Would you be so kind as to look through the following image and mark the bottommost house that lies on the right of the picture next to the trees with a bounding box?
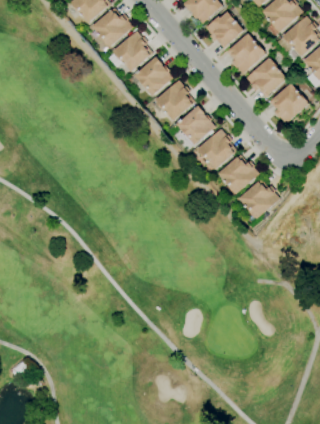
[240,180,280,218]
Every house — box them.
[205,8,246,46]
[269,82,310,121]
[283,17,320,56]
[240,180,280,218]
[220,157,260,195]
[135,57,172,96]
[188,0,224,22]
[114,31,155,70]
[196,130,238,168]
[246,58,288,96]
[92,8,133,46]
[177,106,214,144]
[70,0,112,22]
[304,46,320,78]
[155,81,196,120]
[264,0,304,32]
[226,32,268,70]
